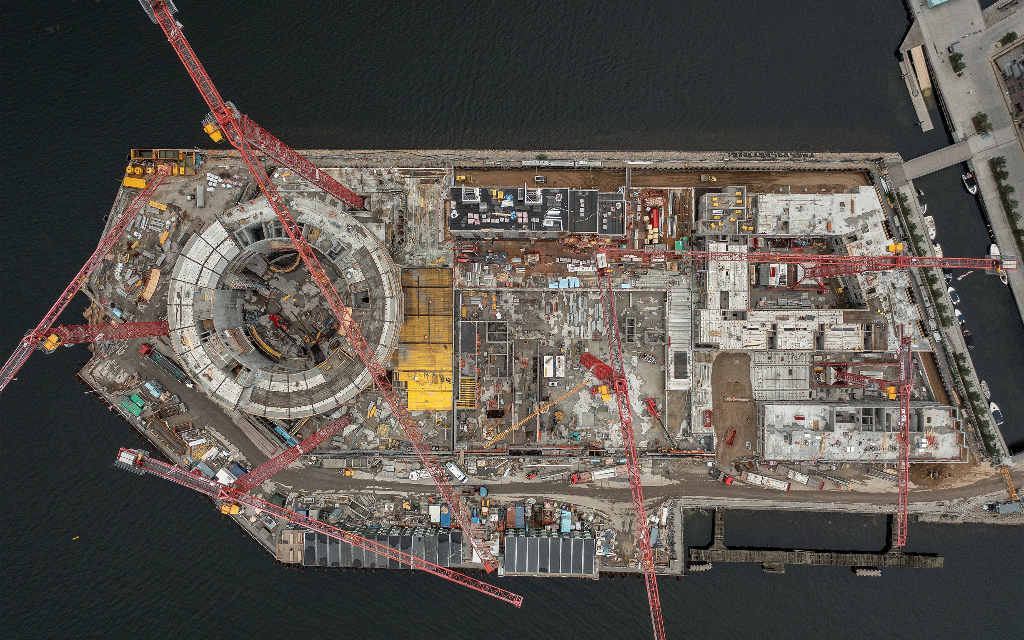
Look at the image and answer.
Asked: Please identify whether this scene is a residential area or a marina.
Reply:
marina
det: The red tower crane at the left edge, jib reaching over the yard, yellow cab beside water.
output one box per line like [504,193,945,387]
[0,163,176,386]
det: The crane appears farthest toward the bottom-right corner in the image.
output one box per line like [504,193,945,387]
[811,325,920,548]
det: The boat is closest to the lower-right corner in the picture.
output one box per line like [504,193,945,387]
[992,404,1006,426]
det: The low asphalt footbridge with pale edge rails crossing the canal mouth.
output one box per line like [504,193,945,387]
[901,140,977,181]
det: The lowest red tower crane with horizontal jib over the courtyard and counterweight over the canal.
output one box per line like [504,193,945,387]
[593,245,1018,294]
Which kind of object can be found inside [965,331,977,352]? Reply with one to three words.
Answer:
boat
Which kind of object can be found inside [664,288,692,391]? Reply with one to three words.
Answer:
building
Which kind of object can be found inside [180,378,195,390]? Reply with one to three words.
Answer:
vehicle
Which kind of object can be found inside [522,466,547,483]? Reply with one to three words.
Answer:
work vehicle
